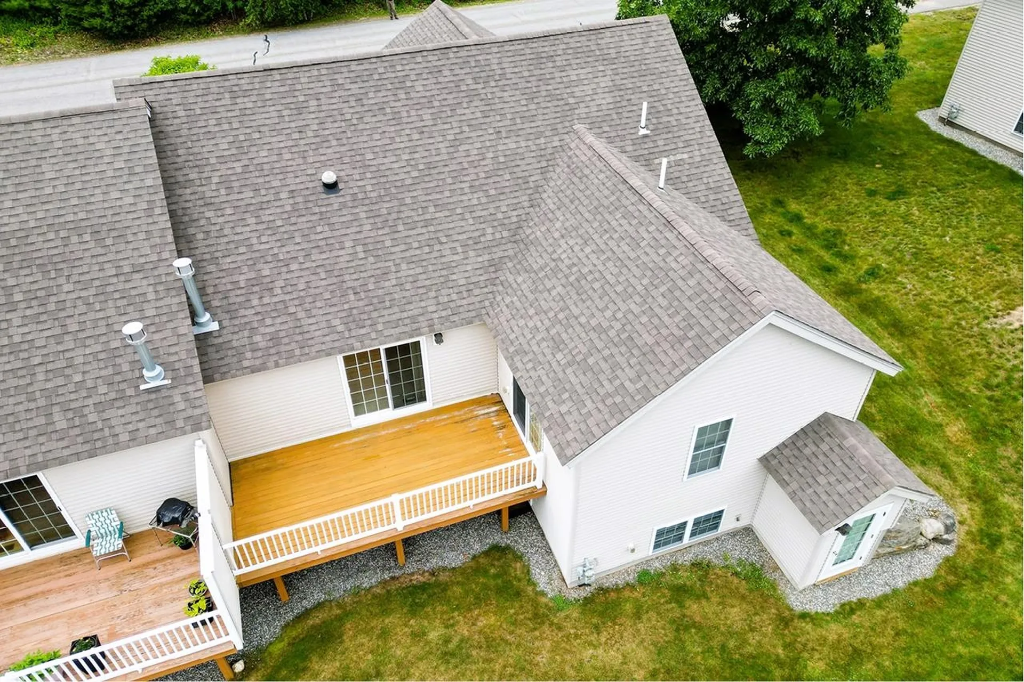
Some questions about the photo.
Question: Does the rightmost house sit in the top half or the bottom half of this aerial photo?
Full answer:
The rightmost house sits in the top half of the picture.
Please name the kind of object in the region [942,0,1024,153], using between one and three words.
house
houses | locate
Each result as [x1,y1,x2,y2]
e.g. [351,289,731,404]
[942,0,1024,153]
[113,0,938,590]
